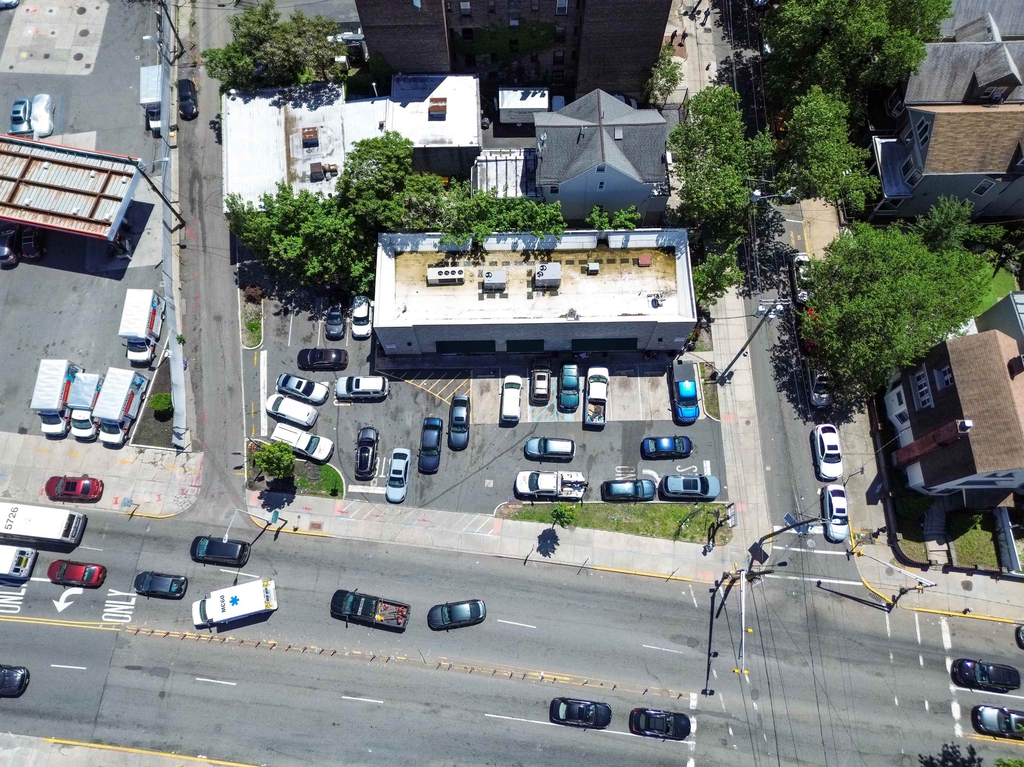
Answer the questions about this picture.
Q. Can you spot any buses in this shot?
Yes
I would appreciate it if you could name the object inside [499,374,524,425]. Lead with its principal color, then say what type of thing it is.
white car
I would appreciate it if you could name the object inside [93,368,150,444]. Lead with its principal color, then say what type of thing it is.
white truck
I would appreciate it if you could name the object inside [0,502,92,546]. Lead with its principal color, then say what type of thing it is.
white bus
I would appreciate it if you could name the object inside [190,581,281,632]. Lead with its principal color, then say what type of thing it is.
white van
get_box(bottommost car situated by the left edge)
[0,664,33,695]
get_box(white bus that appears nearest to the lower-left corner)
[0,542,45,579]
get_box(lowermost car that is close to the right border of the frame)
[968,705,1024,739]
